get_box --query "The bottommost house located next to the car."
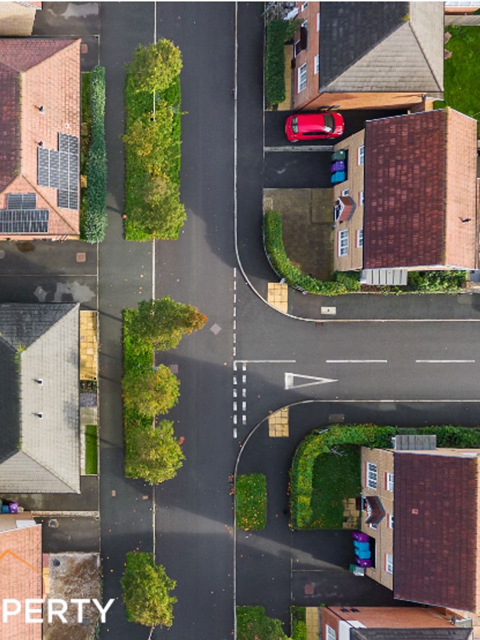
[332,108,480,272]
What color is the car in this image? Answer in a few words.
red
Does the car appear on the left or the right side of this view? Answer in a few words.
right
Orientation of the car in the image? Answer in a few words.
from side to side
